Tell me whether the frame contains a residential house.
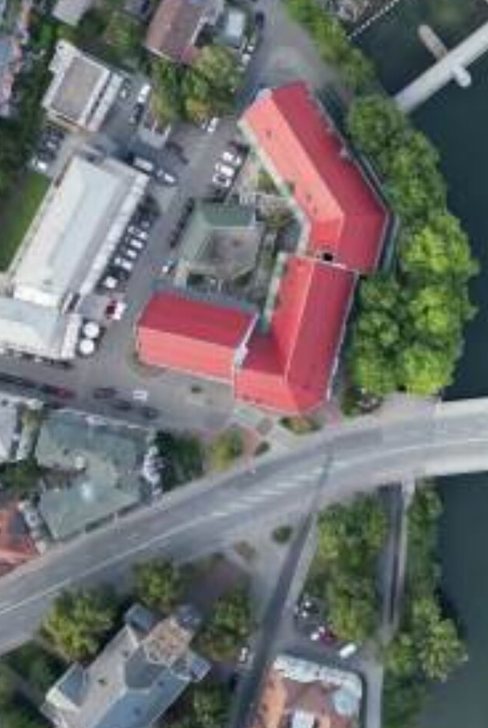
Yes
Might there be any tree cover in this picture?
Yes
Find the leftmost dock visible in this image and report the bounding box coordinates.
[416,26,449,64]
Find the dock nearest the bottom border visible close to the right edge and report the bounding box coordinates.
[450,68,471,92]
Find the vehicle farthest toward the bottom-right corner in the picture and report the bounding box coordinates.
[336,643,360,660]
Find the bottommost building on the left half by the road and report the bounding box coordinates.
[41,602,213,728]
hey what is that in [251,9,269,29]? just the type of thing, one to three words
car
